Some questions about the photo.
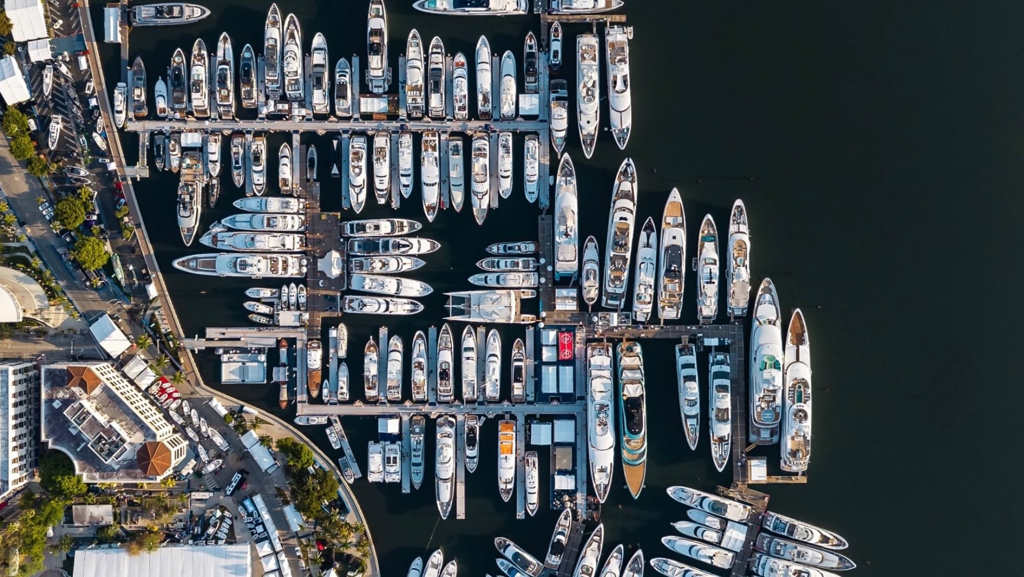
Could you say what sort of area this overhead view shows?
port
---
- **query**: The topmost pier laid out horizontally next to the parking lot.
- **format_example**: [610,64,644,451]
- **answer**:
[127,120,550,132]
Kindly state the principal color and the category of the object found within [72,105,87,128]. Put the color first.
gray boat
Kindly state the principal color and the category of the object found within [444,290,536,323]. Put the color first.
white boat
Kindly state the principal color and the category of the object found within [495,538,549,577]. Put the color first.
gray boat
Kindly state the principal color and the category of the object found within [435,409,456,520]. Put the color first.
white boat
